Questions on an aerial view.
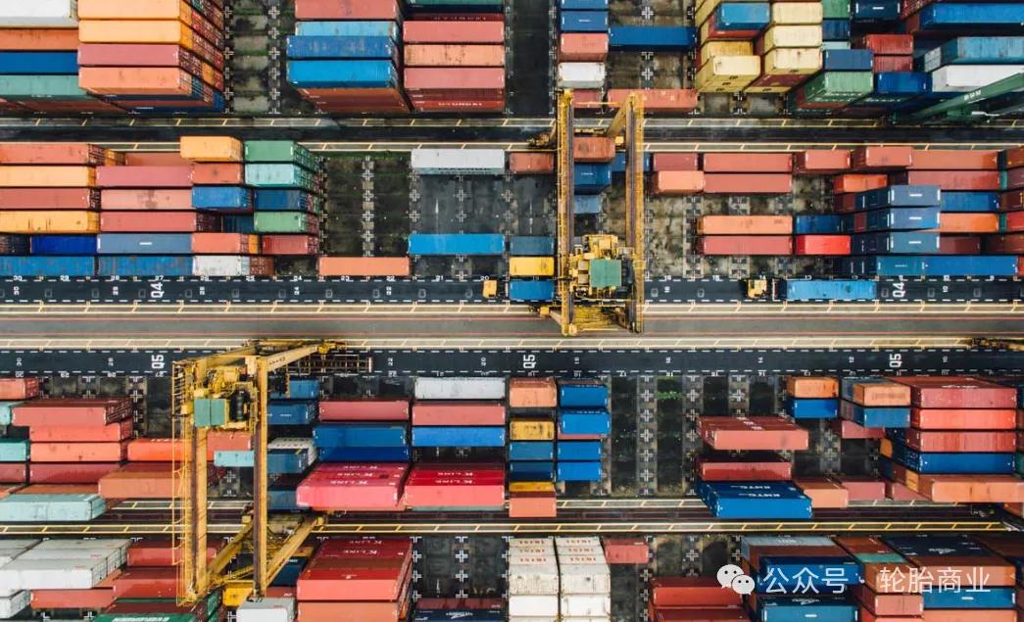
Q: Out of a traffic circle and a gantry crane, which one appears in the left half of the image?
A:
gantry crane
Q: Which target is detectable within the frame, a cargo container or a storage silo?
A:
cargo container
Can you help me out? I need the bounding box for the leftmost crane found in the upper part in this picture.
[524,94,642,331]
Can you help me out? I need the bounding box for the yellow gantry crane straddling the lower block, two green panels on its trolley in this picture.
[179,344,343,596]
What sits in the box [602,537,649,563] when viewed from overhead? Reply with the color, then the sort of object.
red shipping container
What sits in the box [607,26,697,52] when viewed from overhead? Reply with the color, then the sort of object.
blue shipping container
